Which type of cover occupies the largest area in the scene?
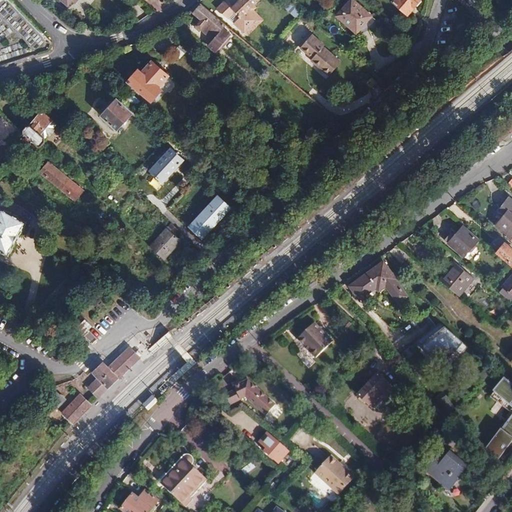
trees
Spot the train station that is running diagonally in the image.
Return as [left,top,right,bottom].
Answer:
[58,324,236,452]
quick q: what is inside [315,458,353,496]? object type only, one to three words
house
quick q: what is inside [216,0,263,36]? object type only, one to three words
house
